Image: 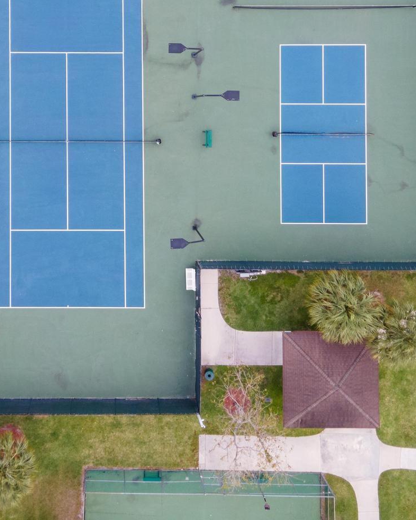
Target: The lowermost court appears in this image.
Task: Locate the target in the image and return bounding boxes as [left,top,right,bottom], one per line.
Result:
[83,471,323,520]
